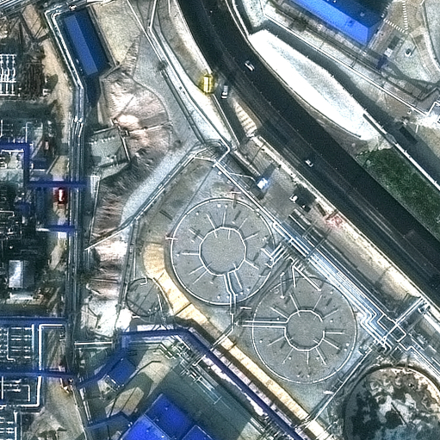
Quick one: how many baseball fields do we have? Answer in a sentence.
No baseball fields are visible.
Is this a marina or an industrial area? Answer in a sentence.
What you see here is an industrial area.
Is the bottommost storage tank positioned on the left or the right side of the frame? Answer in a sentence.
The bottommost storage tank is on the right side of the image.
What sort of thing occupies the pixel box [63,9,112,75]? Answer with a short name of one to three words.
building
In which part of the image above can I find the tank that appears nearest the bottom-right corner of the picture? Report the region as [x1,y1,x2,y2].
[342,365,440,440]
